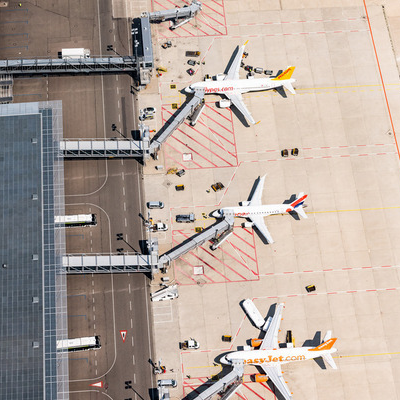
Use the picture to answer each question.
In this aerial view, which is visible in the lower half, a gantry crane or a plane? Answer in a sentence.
Visible in the lower half is a plane.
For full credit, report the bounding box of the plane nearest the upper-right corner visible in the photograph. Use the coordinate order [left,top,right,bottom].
[189,38,299,124]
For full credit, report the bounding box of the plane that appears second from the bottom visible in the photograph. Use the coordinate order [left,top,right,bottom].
[213,172,306,242]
